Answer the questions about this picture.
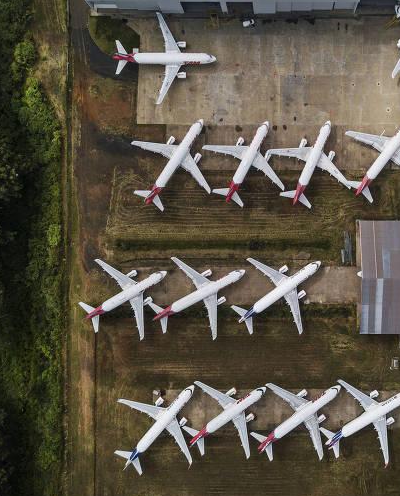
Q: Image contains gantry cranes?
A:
No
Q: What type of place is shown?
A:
airport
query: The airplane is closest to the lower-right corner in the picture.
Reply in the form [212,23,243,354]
[320,380,400,466]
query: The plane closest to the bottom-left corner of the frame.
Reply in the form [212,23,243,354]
[116,385,196,473]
